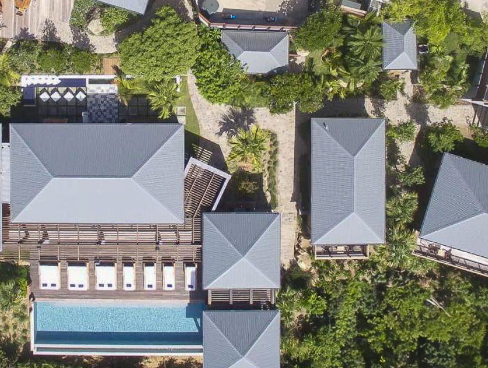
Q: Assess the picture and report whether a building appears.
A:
Yes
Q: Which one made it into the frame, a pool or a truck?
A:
pool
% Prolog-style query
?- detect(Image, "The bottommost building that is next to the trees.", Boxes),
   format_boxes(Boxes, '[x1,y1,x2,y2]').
[202,305,280,368]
